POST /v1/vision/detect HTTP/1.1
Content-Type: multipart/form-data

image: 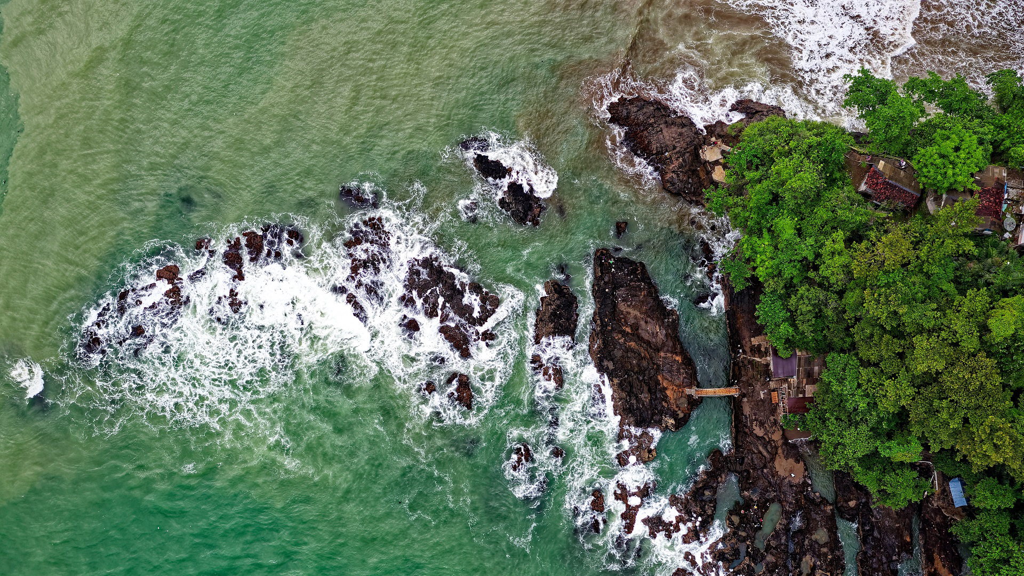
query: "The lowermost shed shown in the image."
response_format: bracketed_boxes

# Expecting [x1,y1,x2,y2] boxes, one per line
[942,477,966,507]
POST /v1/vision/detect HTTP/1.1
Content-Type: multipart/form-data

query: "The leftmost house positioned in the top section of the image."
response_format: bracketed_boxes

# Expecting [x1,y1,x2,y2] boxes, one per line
[857,160,921,212]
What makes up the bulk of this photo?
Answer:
water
